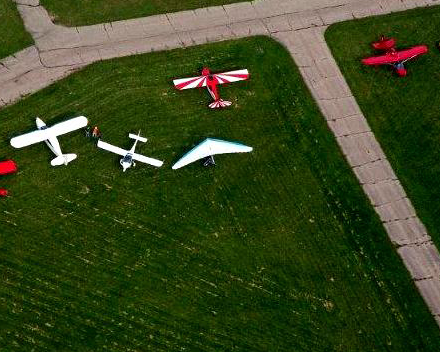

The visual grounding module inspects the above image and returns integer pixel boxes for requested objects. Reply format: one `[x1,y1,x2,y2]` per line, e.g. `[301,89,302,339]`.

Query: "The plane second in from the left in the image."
[98,131,166,175]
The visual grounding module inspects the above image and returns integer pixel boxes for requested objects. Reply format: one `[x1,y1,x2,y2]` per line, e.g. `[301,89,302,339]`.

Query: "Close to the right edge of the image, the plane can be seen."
[362,40,429,74]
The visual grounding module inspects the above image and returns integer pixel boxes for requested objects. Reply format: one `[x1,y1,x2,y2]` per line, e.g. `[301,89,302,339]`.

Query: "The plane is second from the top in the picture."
[171,66,252,107]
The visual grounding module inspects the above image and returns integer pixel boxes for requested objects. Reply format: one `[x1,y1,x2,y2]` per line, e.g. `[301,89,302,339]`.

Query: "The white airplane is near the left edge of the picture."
[9,115,91,167]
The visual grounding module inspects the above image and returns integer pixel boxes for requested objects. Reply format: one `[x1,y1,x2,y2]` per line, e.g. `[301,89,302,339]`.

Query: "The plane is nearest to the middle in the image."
[172,140,255,171]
